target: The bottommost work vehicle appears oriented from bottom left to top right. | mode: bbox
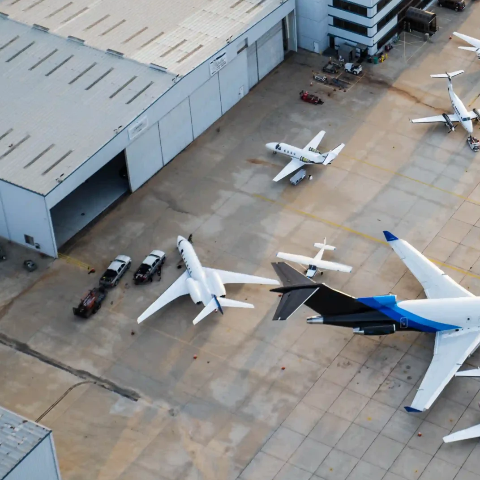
[69,282,105,318]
